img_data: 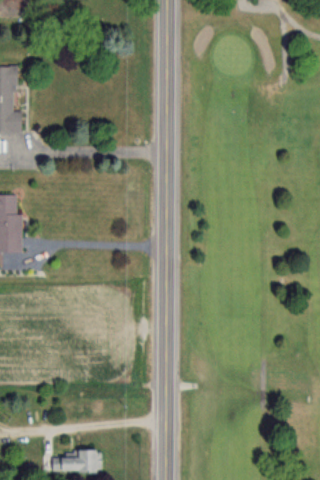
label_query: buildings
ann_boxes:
[52,451,104,475]
[0,194,24,268]
[0,66,22,134]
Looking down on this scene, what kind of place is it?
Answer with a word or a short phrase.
golf course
